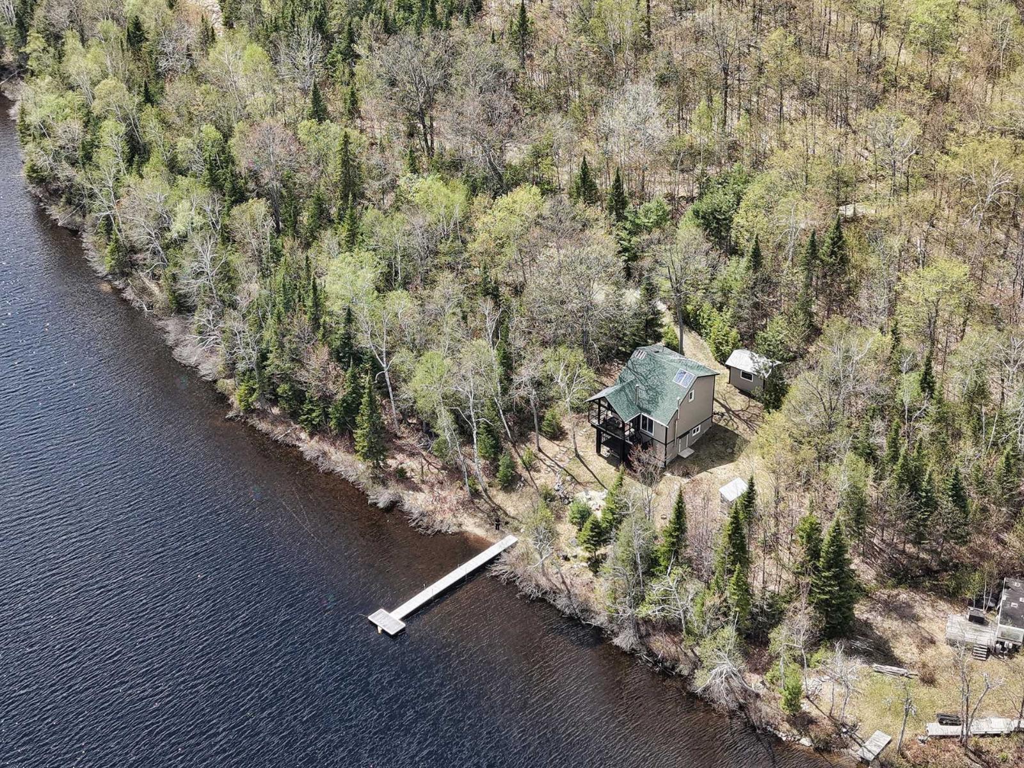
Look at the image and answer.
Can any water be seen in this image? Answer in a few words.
Yes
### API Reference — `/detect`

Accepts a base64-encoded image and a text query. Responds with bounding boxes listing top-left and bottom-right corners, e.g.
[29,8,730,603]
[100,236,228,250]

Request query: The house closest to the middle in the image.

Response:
[585,344,720,472]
